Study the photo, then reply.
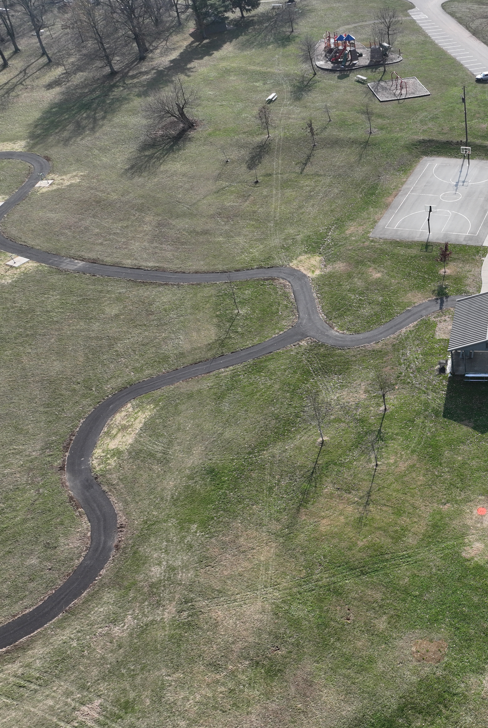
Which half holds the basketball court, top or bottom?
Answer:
top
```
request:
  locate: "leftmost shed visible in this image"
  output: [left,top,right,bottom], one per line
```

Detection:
[190,18,228,39]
